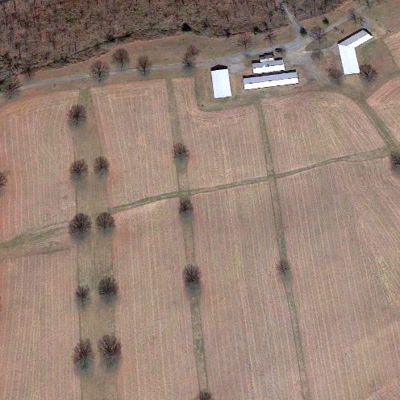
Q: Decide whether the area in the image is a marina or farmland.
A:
farmland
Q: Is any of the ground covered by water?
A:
No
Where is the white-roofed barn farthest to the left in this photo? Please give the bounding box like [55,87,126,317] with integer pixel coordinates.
[211,68,231,101]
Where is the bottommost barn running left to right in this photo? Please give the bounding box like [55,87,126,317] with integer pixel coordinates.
[243,71,299,92]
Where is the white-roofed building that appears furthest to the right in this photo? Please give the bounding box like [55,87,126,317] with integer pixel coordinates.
[338,29,372,78]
